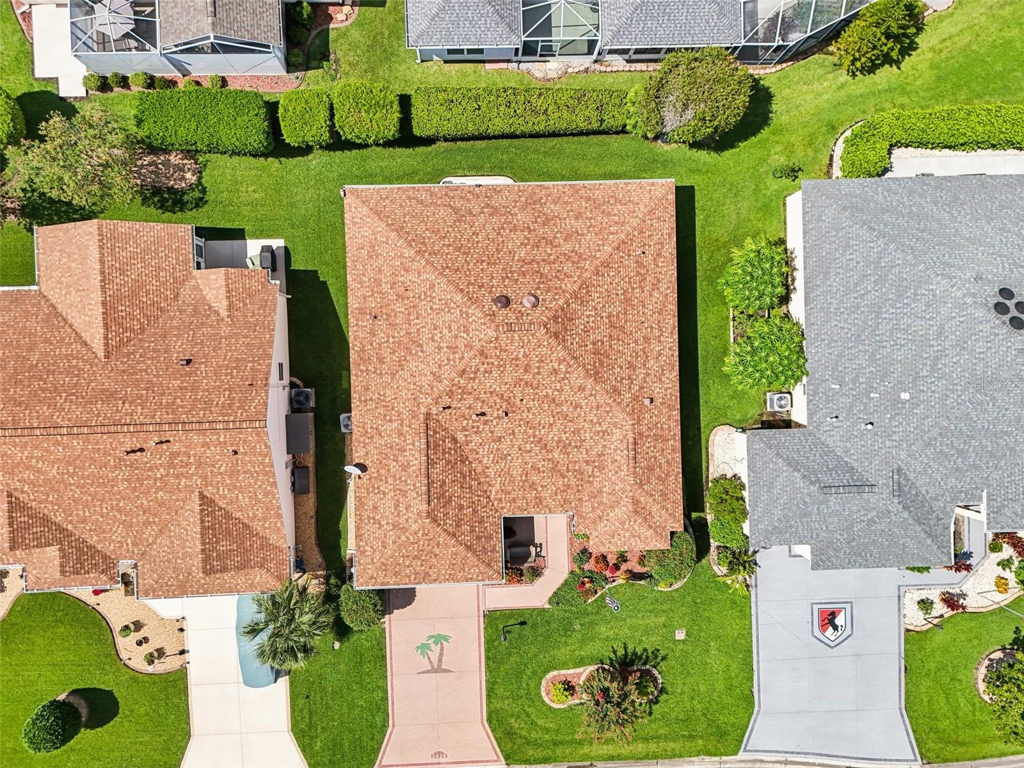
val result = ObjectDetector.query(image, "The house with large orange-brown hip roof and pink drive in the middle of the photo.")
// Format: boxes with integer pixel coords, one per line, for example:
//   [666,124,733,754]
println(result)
[343,178,685,590]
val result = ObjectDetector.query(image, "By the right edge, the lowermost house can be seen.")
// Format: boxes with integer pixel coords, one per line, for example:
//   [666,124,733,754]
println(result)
[736,176,1024,572]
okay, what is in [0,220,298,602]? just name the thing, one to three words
house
